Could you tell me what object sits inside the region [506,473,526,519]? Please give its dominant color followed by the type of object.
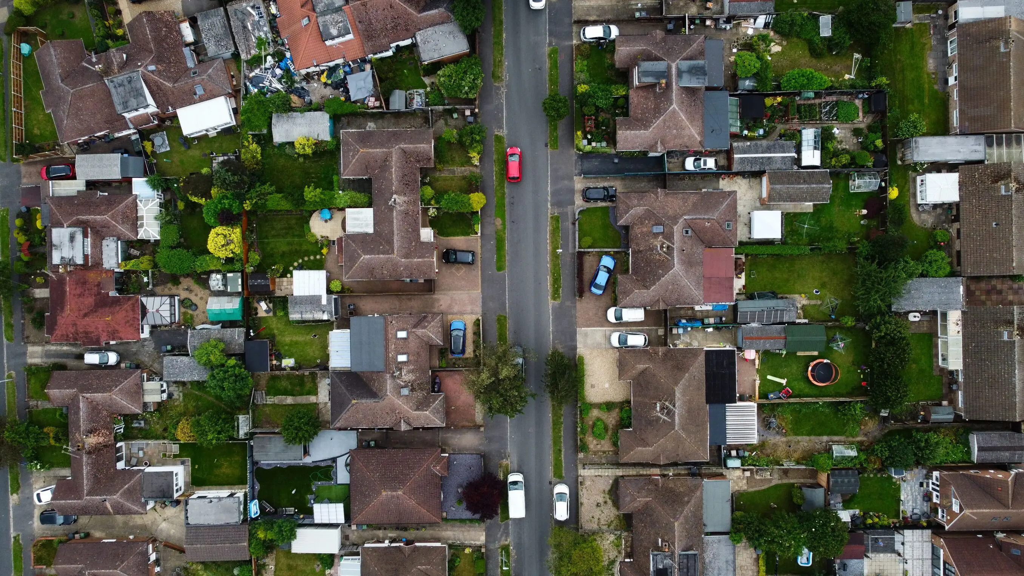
white vehicle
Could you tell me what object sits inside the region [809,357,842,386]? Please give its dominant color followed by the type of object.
black trampoline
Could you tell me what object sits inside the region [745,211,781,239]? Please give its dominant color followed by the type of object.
white gazebo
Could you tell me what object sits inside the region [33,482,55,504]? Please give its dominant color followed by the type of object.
white car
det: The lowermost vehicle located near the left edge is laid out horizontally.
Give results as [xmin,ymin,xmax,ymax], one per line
[39,508,79,528]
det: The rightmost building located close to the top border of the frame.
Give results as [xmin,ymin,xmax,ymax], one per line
[946,0,1024,136]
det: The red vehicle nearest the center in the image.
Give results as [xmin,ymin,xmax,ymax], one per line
[505,147,523,183]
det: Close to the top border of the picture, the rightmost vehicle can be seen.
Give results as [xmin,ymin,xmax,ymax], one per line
[581,23,618,49]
